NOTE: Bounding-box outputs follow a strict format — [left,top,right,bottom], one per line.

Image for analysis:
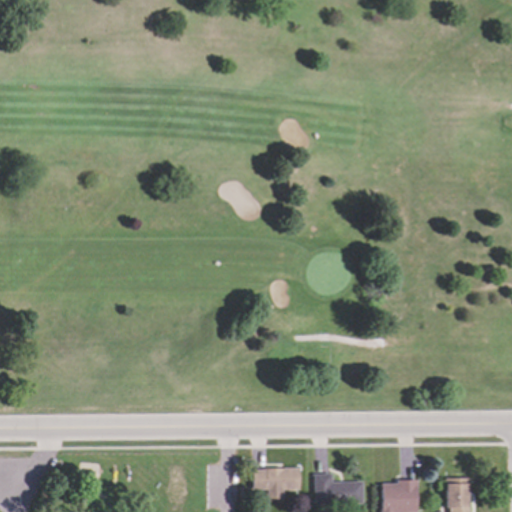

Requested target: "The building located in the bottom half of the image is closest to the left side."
[252,469,302,501]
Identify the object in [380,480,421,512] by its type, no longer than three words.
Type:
house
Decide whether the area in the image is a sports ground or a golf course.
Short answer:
golf course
